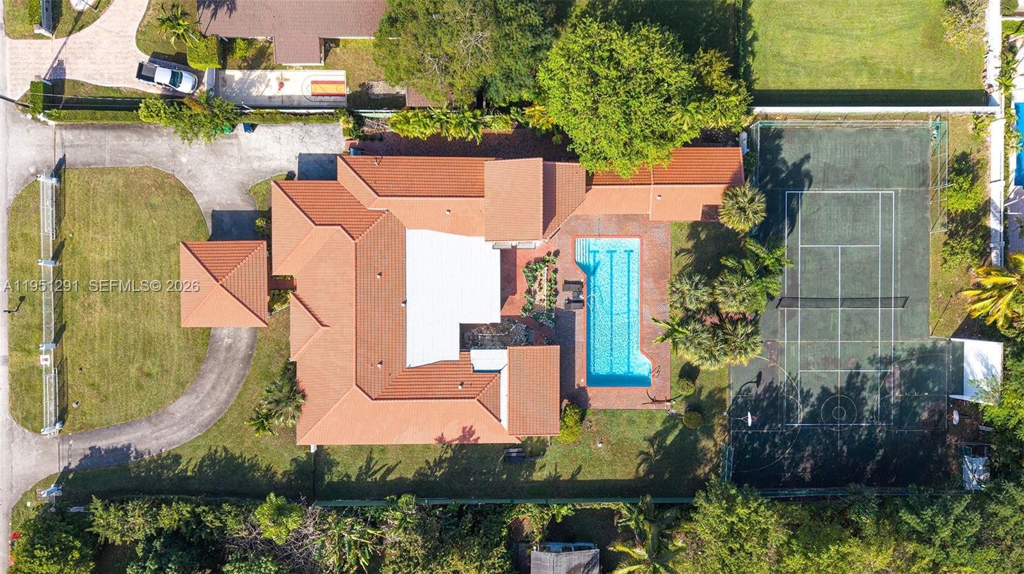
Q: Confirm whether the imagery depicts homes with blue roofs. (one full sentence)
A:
No, there is no home with a blue roof in the image.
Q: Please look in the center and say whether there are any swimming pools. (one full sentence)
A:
Yes, you'll find a swimming pool in the center.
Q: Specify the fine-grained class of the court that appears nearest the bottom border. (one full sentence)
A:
The court that appears nearest the bottom border can be classified as a tennis court.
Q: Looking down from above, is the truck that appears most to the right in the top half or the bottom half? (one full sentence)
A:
The truck that appears most to the right is in the top half of the image.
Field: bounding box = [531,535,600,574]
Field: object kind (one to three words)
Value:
shed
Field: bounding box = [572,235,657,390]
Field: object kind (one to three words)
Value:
swimming pool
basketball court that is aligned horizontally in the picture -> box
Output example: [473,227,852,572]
[215,70,346,107]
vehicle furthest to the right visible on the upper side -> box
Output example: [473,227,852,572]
[137,57,201,93]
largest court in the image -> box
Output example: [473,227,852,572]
[728,125,964,491]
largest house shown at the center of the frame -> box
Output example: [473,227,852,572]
[271,147,747,445]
